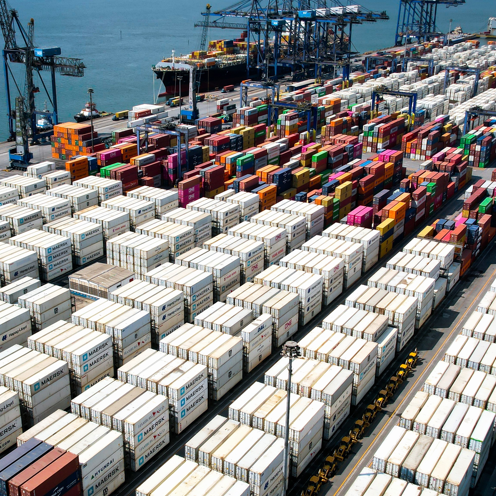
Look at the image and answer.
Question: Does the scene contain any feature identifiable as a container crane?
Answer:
Yes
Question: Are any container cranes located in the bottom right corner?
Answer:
No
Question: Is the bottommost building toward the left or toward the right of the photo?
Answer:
left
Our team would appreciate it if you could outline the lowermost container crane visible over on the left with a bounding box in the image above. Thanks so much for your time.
[140,127,198,180]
